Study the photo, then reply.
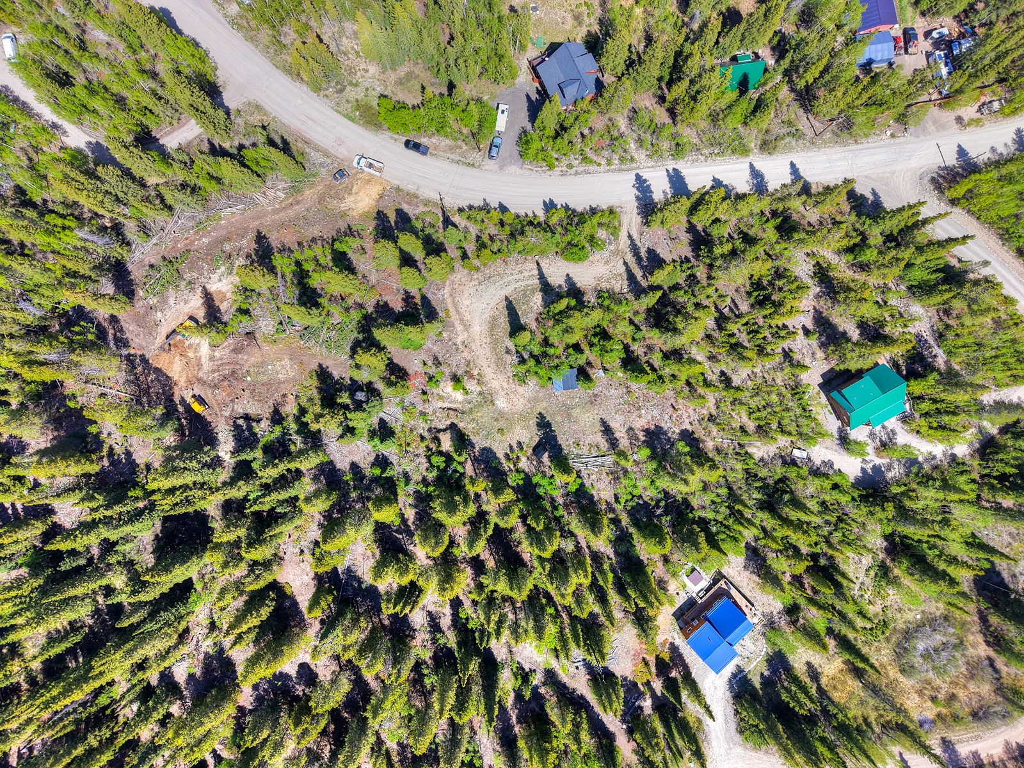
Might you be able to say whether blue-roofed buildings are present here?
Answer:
Yes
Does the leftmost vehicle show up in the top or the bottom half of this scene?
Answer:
top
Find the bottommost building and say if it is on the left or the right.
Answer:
right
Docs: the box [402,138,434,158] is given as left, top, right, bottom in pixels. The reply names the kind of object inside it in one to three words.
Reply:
vehicle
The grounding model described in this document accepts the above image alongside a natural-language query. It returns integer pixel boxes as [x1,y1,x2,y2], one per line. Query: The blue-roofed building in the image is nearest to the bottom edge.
[678,577,766,675]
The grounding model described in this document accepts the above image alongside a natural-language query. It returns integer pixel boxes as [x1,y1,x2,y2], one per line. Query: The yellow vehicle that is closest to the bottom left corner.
[184,390,208,414]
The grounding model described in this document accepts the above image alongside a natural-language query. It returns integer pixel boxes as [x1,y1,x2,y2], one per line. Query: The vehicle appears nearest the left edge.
[1,33,23,65]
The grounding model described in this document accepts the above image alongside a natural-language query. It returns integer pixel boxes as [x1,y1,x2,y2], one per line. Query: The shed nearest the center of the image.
[552,368,578,392]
